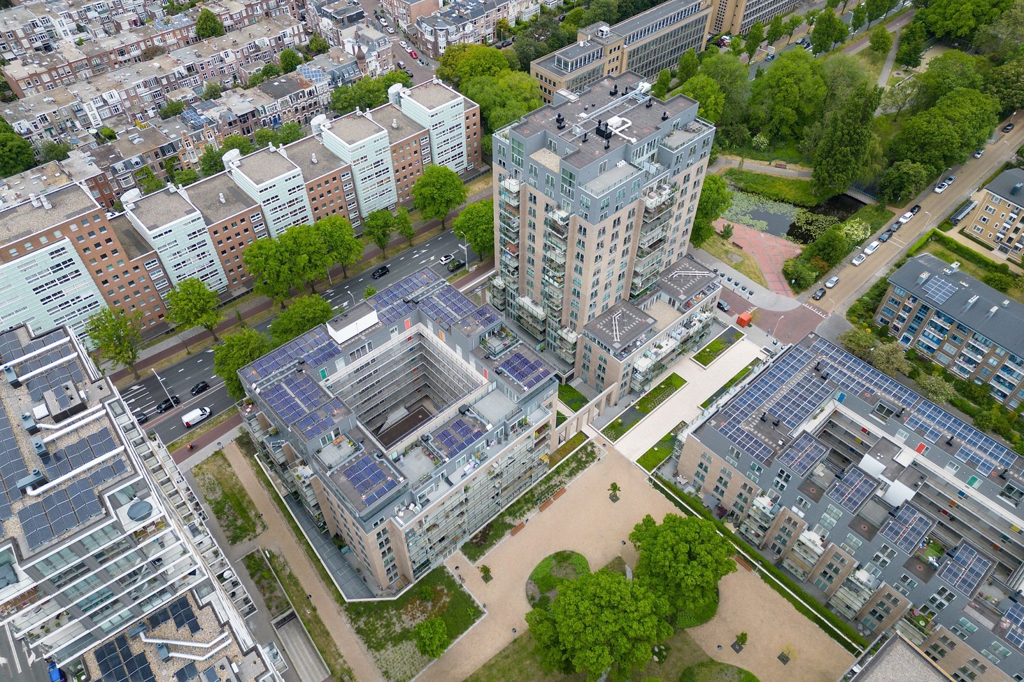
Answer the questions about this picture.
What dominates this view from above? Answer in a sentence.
The scene is dominated by buildings.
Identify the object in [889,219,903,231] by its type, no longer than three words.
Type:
vehicle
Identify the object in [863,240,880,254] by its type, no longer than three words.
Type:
car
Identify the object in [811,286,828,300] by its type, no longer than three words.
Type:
car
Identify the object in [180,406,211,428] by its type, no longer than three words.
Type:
vehicle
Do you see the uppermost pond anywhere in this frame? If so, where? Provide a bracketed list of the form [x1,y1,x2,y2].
[722,182,901,246]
